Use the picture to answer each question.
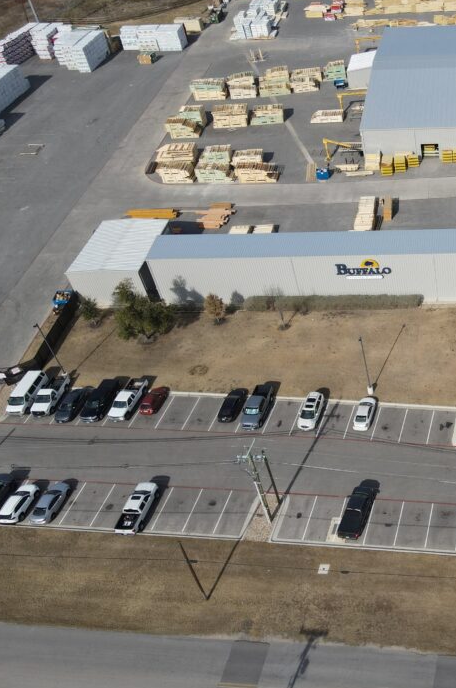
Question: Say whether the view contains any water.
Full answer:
No, the picture contains no water.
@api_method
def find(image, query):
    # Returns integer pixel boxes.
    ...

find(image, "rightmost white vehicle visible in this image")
[353,394,379,431]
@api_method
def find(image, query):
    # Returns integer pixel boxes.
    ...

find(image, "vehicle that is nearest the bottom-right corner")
[337,484,374,540]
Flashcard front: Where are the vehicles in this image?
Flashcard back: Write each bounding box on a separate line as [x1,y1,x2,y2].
[337,484,374,540]
[54,386,93,423]
[137,381,173,415]
[298,393,326,431]
[5,368,54,415]
[0,474,27,511]
[29,479,76,525]
[218,386,249,422]
[353,394,379,431]
[110,480,162,535]
[78,379,123,422]
[241,387,276,431]
[0,480,46,524]
[30,374,76,417]
[106,377,149,420]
